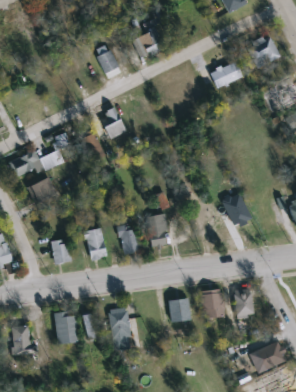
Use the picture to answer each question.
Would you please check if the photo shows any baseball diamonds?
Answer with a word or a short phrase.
No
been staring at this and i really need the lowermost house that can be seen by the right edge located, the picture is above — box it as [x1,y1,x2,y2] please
[251,342,287,372]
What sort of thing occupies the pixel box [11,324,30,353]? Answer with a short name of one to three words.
house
